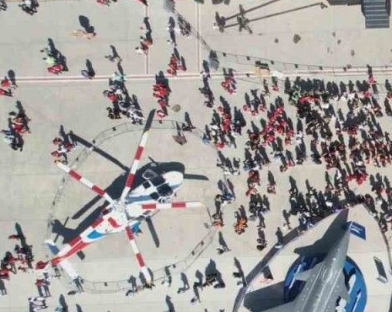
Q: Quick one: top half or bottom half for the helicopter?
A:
bottom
